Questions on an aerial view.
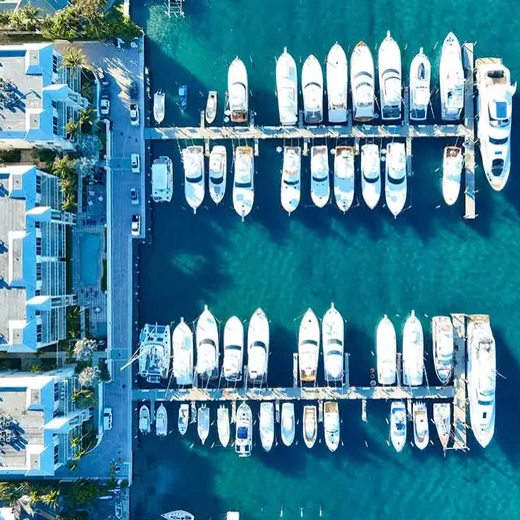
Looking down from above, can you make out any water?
Yes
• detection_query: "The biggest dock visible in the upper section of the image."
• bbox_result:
[145,43,478,218]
